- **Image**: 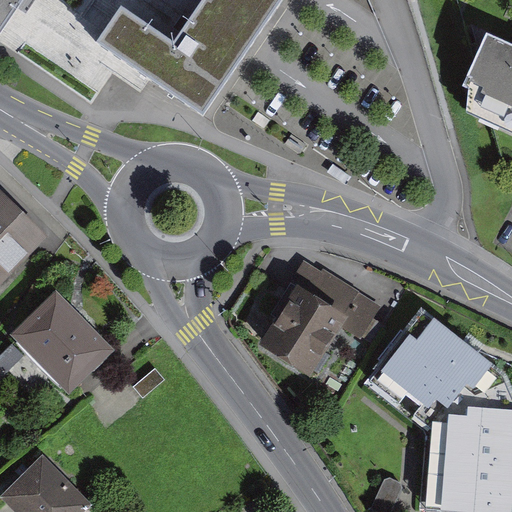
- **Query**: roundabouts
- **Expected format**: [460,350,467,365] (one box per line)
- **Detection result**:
[104,142,244,282]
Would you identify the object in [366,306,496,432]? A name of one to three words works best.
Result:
house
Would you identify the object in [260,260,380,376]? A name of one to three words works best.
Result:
house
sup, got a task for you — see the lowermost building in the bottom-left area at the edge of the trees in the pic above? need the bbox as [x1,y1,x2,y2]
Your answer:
[1,455,90,512]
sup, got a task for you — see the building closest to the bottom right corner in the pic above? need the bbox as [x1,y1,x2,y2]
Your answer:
[424,406,512,512]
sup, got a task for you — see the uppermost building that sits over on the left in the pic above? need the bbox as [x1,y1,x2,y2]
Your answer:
[96,0,284,114]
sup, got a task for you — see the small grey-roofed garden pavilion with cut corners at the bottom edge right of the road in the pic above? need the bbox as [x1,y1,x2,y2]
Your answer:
[370,477,400,512]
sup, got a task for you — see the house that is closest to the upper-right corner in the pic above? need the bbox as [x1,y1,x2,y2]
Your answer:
[463,33,512,132]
